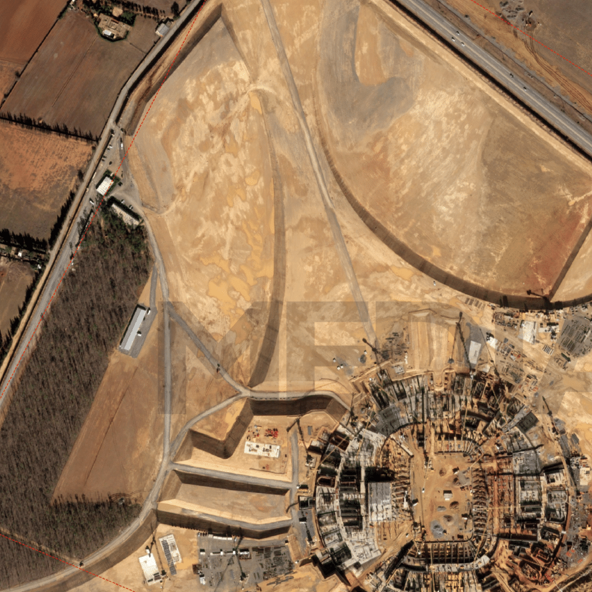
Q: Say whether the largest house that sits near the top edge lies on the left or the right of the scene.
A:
left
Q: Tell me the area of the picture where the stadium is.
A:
bottom right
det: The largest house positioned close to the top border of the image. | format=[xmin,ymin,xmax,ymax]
[98,12,132,40]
